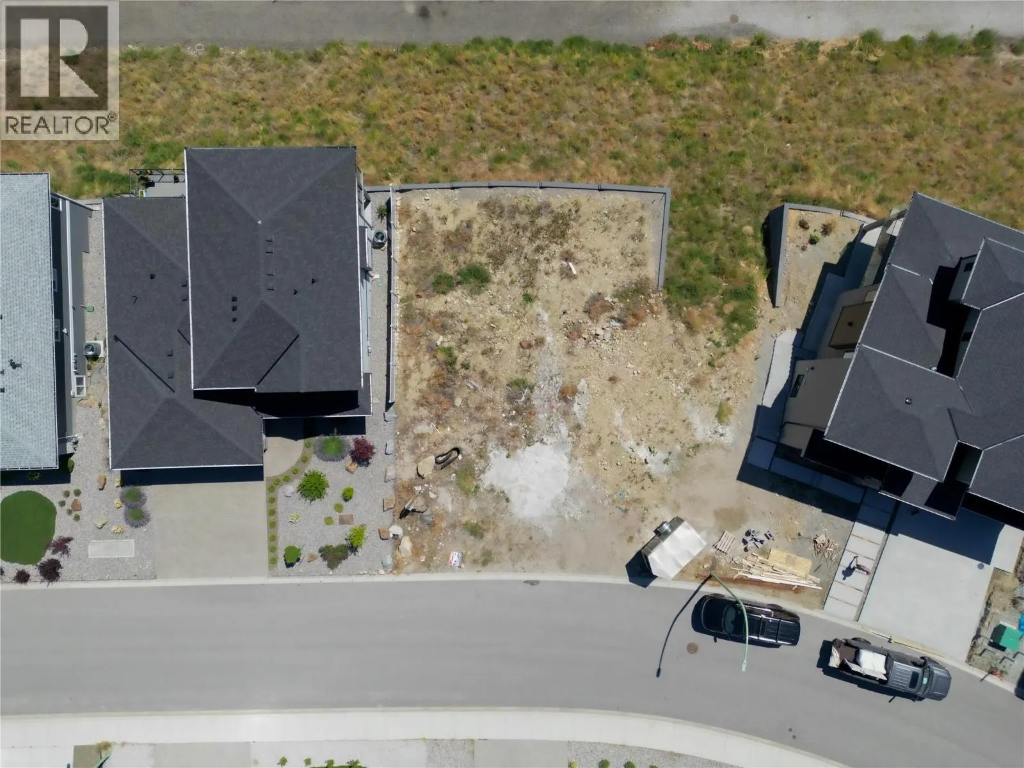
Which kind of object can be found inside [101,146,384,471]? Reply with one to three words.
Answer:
house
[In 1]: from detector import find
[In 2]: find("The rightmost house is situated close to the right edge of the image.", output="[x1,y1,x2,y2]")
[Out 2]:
[777,191,1024,520]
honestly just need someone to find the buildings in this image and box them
[777,191,1024,520]
[101,146,384,471]
[0,172,87,473]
